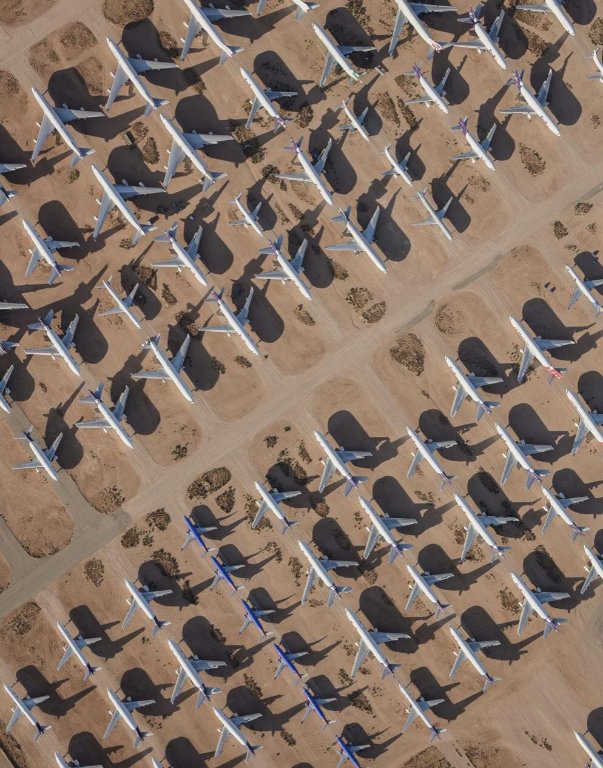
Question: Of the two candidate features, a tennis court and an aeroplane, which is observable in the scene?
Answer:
aeroplane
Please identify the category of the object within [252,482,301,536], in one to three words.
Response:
airplane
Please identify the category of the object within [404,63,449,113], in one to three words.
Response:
airplane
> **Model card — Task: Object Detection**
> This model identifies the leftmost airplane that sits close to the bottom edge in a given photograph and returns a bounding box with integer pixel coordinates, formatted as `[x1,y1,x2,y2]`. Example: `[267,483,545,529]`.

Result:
[4,684,51,740]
